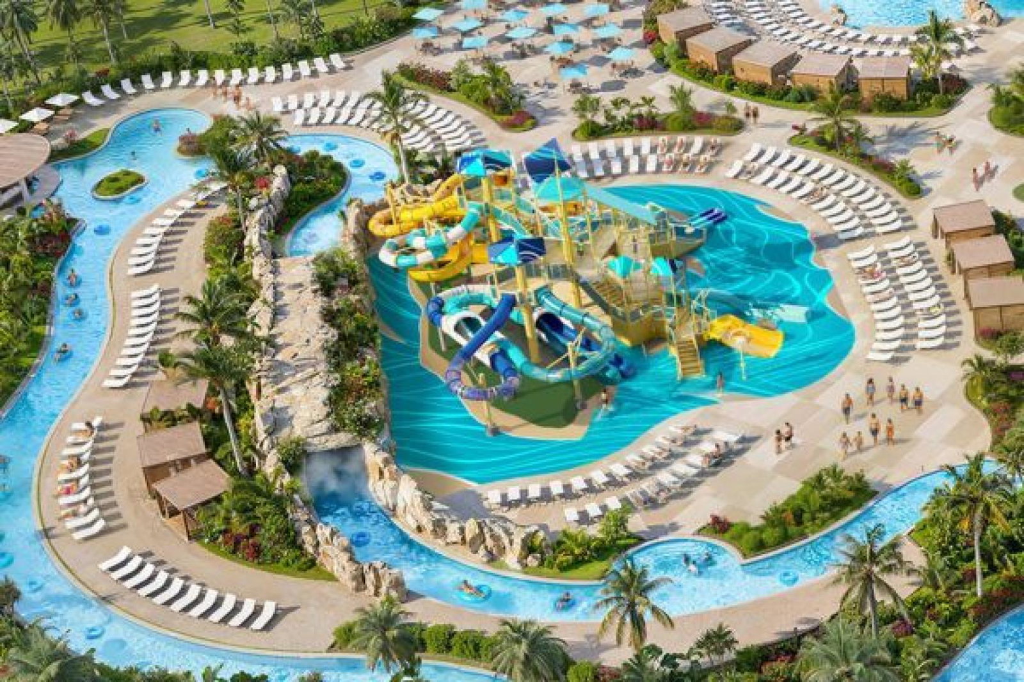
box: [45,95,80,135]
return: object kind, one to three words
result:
umbrella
